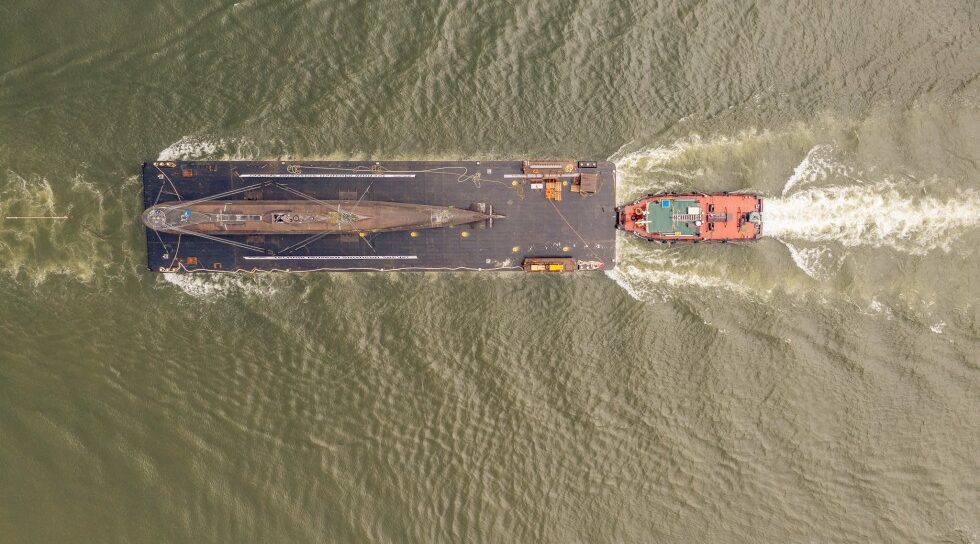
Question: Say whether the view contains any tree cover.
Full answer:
No, there is no tree cover in the image.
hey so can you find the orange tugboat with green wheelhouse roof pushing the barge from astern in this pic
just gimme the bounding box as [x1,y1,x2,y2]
[614,192,763,243]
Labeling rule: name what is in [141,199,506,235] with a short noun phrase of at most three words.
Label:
ship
